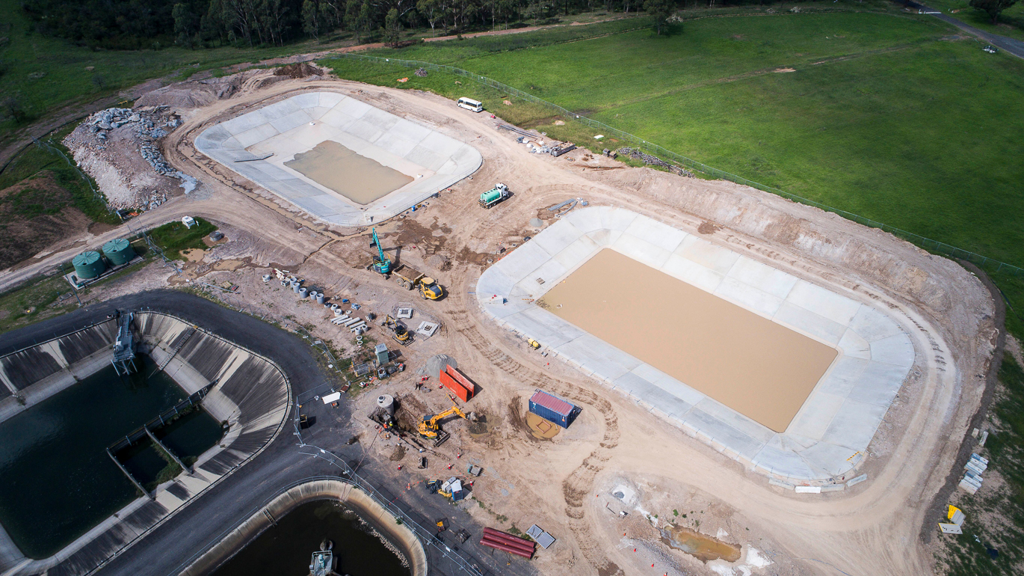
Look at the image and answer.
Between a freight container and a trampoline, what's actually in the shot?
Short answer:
freight container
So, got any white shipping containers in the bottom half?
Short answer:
No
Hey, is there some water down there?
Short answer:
Yes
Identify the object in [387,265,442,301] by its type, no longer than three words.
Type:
truck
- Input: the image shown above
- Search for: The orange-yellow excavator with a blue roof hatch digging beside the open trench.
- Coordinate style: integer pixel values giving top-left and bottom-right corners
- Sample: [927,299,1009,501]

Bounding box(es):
[416,404,471,452]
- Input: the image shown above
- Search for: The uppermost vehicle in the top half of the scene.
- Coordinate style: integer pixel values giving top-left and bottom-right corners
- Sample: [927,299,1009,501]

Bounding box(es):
[460,96,486,112]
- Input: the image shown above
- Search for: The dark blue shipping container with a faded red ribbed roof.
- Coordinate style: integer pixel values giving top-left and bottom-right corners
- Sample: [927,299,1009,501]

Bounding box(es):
[528,388,576,429]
